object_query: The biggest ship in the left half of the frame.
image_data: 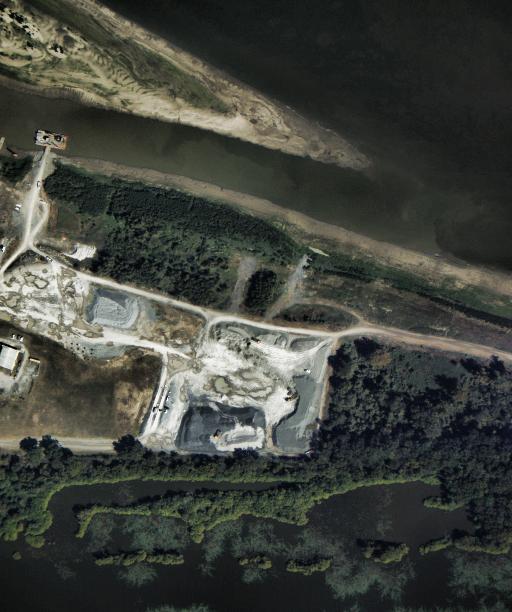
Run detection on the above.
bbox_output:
[35,131,68,149]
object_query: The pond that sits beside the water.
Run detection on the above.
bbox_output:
[0,478,512,612]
